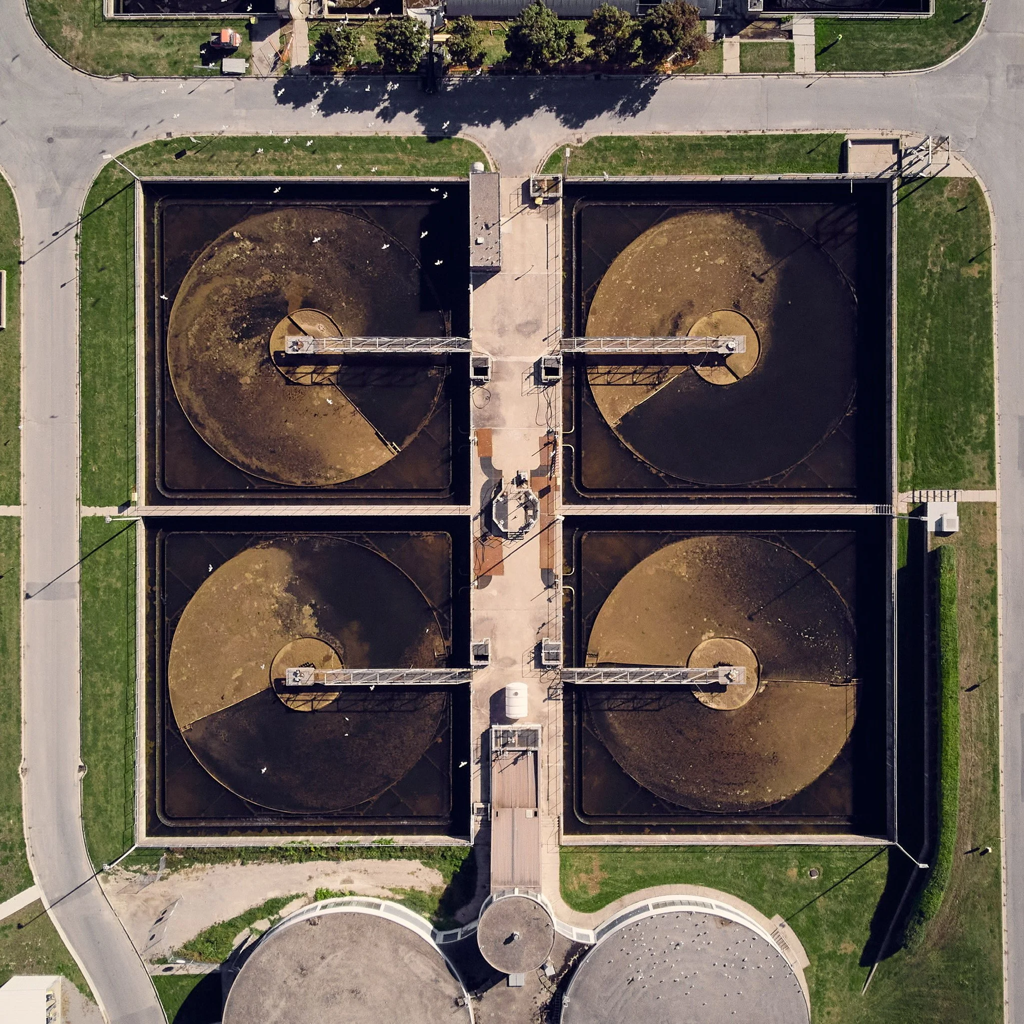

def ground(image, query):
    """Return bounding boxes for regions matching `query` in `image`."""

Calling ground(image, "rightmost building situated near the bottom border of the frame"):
[558,896,809,1024]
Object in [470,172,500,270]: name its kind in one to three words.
shed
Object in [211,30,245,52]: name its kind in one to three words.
vehicle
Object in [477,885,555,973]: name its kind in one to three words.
building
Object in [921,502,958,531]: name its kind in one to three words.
building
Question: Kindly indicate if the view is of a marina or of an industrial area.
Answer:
industrial area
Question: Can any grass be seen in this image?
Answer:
Yes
